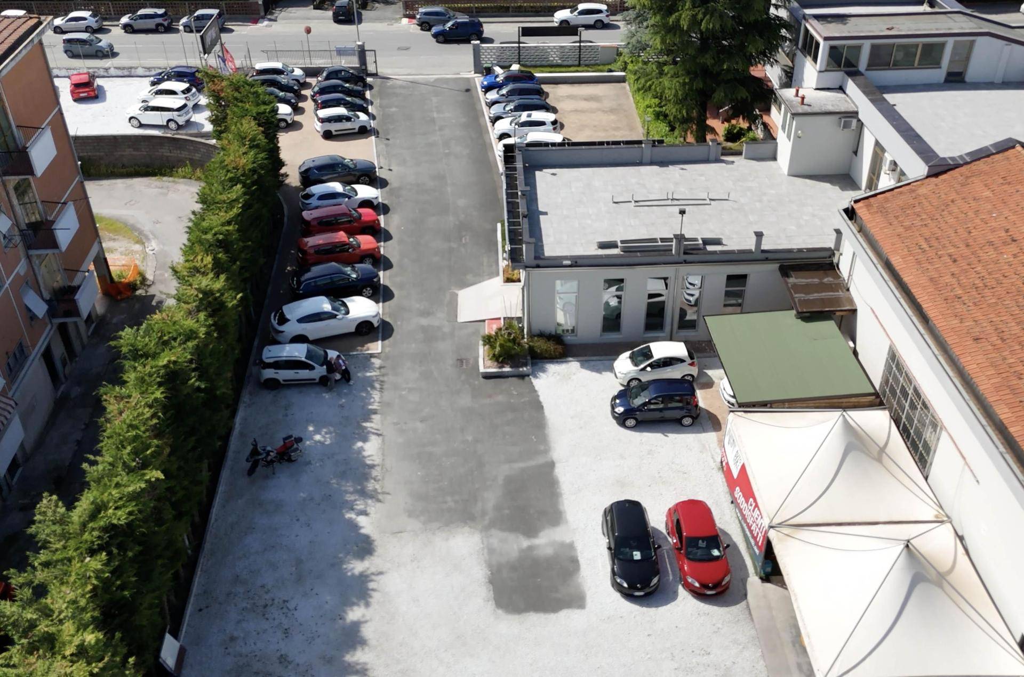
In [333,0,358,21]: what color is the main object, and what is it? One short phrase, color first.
black car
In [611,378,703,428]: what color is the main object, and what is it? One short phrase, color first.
black car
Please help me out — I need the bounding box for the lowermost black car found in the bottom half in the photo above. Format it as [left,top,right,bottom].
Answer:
[599,500,661,598]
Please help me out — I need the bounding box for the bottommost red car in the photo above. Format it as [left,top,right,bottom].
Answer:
[663,499,728,597]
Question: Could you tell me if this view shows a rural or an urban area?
urban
